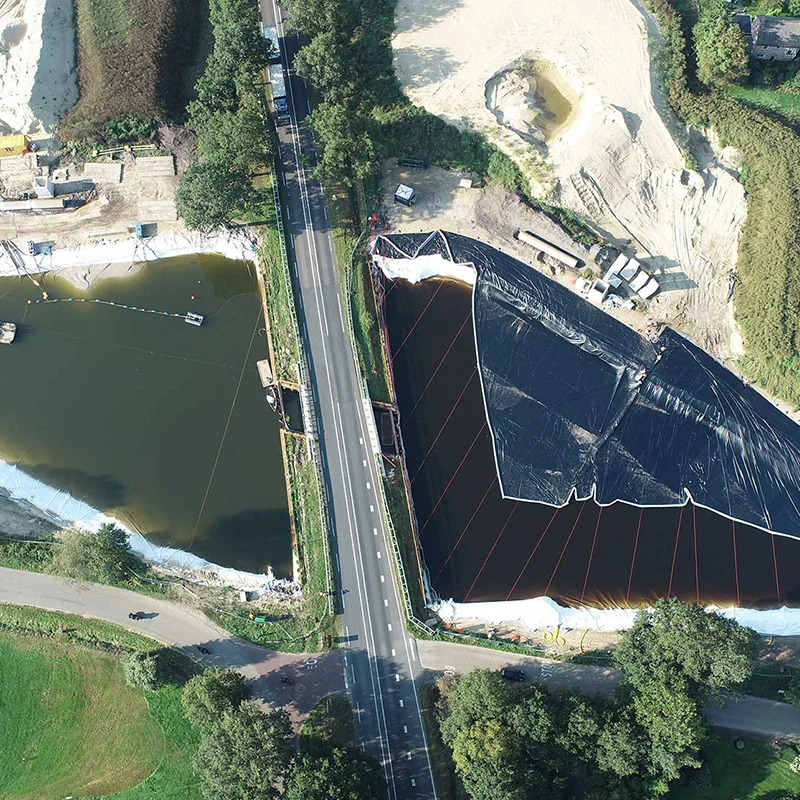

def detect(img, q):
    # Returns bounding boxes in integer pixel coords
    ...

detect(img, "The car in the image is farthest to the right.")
[500,667,524,682]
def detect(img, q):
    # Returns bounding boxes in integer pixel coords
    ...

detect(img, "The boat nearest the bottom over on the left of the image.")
[265,386,277,411]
